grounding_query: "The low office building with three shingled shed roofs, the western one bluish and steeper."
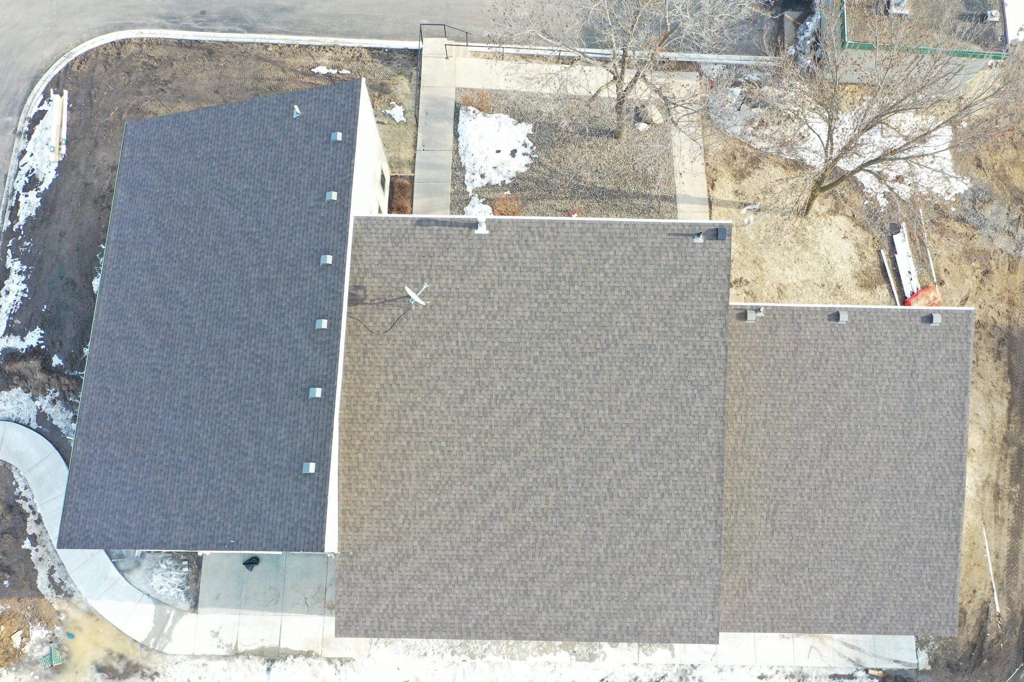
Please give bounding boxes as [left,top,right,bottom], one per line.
[55,77,977,645]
